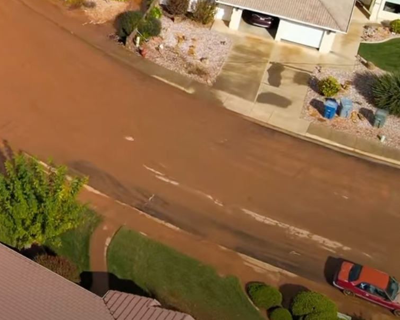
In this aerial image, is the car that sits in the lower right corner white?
No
